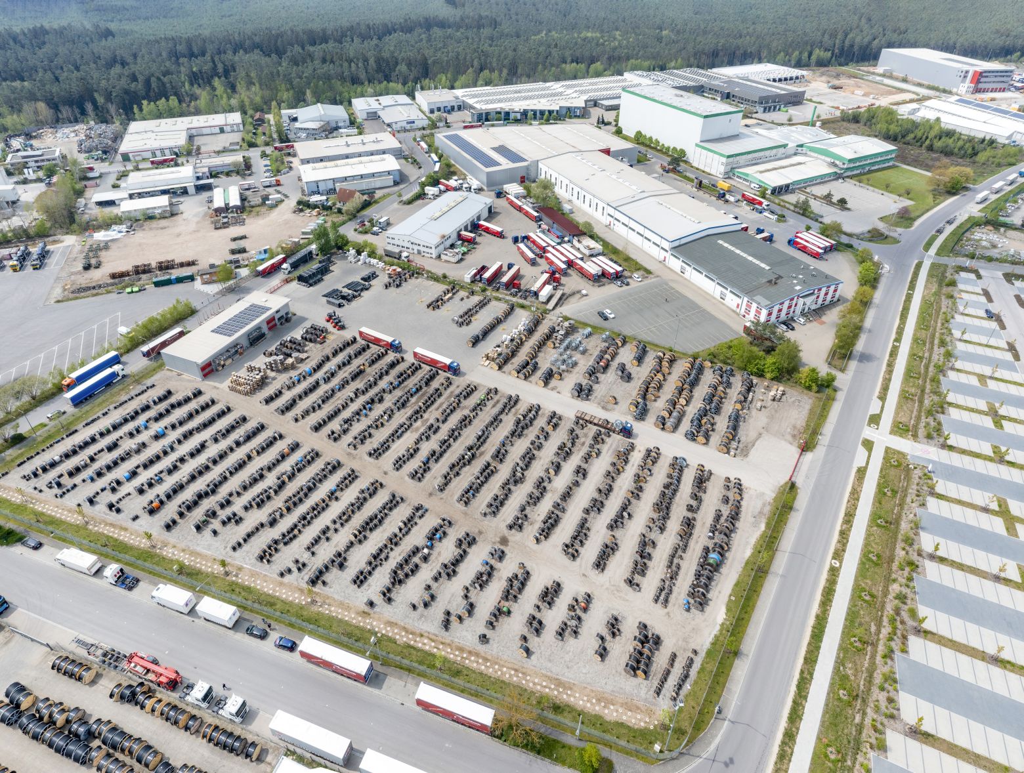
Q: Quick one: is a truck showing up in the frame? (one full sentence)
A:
Yes, the photo shows a truck.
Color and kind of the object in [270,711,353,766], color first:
white trailer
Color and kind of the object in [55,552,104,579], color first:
white truck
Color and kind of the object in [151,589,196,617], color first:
white truck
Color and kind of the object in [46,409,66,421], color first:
gray vehicle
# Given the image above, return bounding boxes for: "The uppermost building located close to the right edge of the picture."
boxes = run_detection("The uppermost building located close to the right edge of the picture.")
[876,47,1006,92]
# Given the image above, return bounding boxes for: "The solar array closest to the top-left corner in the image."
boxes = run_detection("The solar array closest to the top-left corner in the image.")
[208,305,267,338]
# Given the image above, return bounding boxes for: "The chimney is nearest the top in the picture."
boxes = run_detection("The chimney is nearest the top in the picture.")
[808,97,820,126]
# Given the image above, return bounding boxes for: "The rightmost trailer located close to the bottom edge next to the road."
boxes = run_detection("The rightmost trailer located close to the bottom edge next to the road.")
[415,683,496,735]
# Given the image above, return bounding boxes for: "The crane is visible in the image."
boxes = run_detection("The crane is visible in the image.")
[122,650,186,691]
